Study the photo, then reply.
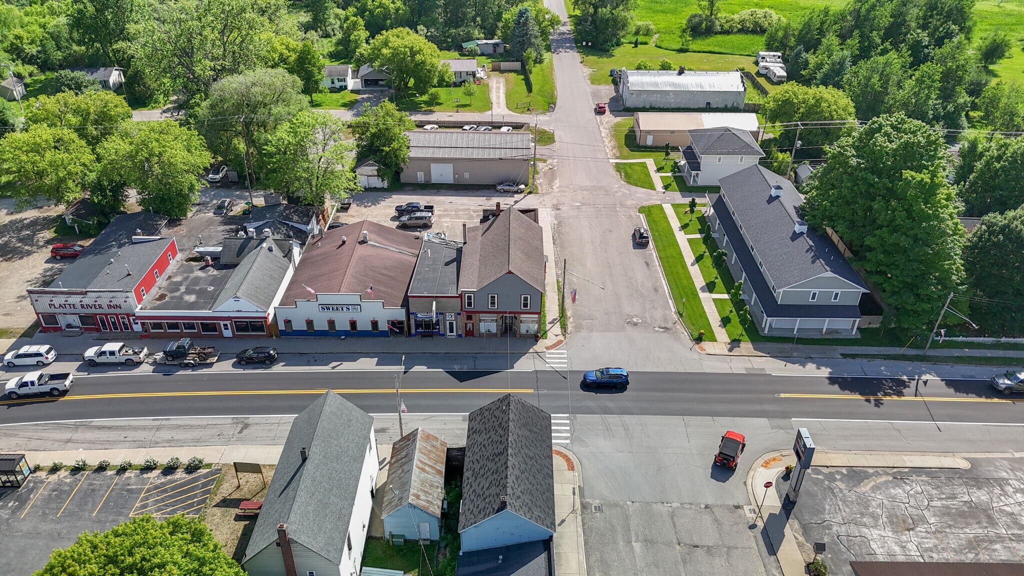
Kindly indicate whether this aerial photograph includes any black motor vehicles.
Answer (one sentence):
Yes, a black motor vehicle appears in the view.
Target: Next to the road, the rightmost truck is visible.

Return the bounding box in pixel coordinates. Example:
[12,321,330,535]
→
[989,367,1024,391]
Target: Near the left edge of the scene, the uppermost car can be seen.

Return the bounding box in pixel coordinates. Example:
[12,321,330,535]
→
[49,240,90,259]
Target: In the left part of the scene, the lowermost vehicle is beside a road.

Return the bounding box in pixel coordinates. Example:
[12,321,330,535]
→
[0,369,74,399]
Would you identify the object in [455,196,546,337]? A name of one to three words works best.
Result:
building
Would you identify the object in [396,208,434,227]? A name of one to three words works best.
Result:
car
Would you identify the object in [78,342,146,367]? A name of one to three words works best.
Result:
truck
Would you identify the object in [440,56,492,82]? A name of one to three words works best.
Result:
house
